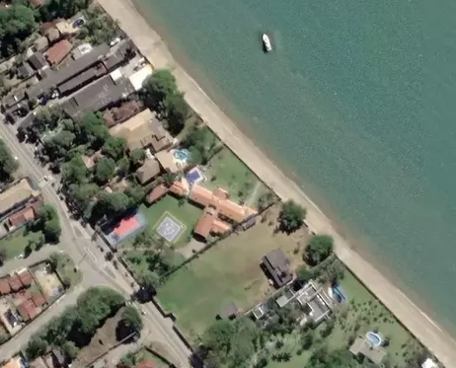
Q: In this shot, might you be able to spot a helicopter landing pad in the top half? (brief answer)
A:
No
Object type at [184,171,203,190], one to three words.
swimming pool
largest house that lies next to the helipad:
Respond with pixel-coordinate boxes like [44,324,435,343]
[189,184,245,241]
